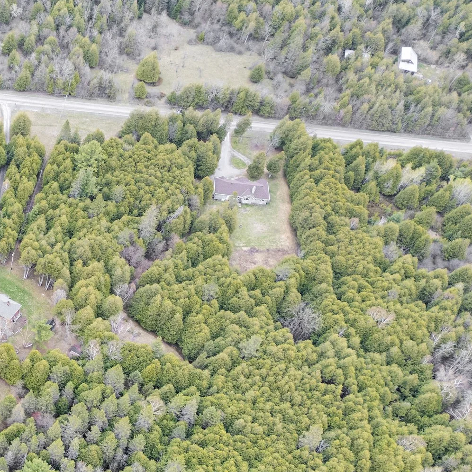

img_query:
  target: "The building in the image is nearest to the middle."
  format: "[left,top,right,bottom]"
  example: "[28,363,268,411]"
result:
[211,172,271,205]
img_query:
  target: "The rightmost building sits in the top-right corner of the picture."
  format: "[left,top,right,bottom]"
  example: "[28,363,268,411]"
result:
[399,47,418,74]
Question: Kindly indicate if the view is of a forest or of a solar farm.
forest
